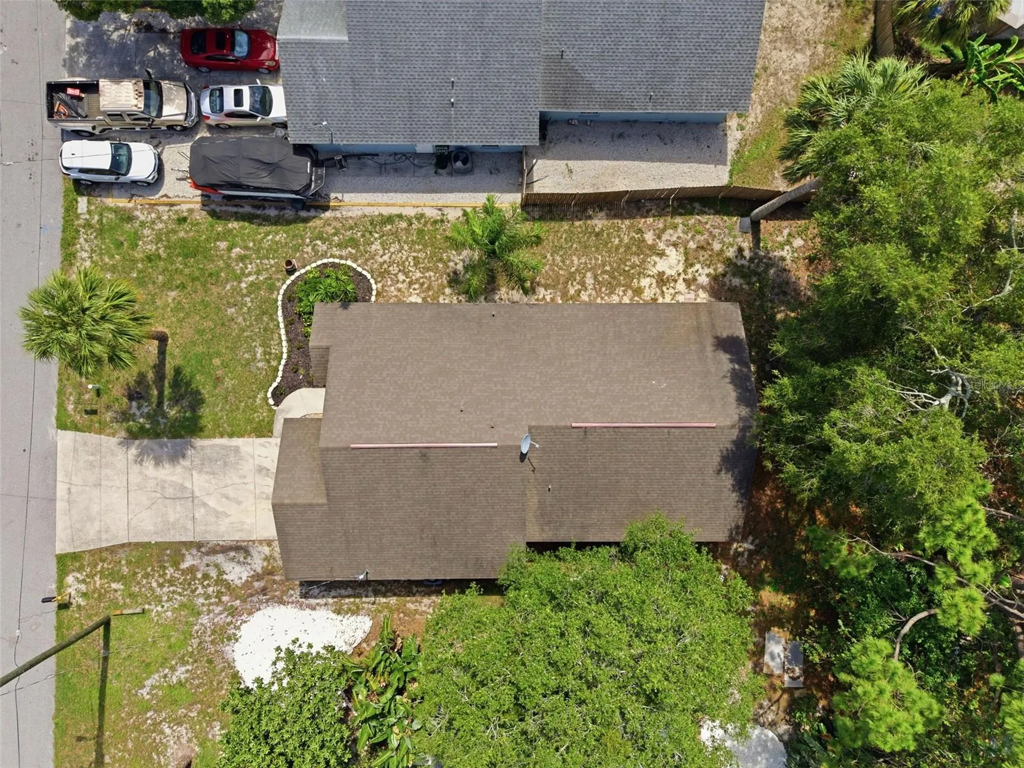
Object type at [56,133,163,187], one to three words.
car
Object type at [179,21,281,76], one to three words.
car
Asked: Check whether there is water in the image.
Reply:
No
